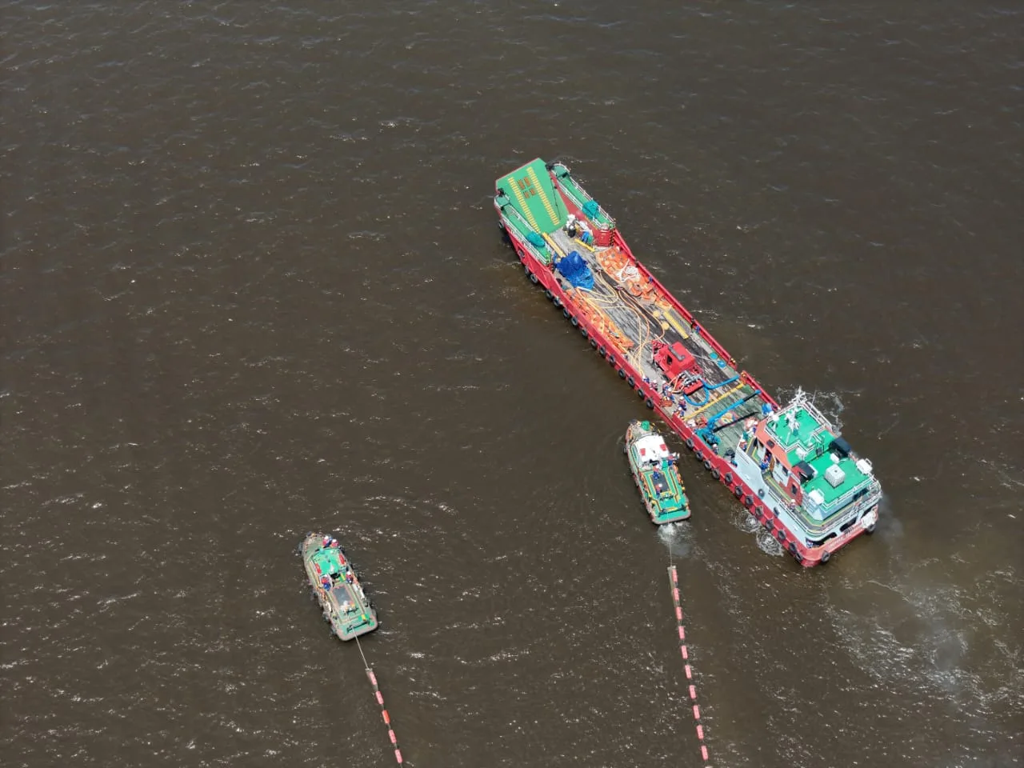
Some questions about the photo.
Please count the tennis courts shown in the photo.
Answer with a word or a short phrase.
zero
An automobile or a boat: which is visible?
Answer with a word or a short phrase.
boat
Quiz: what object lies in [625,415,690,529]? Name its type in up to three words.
boat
